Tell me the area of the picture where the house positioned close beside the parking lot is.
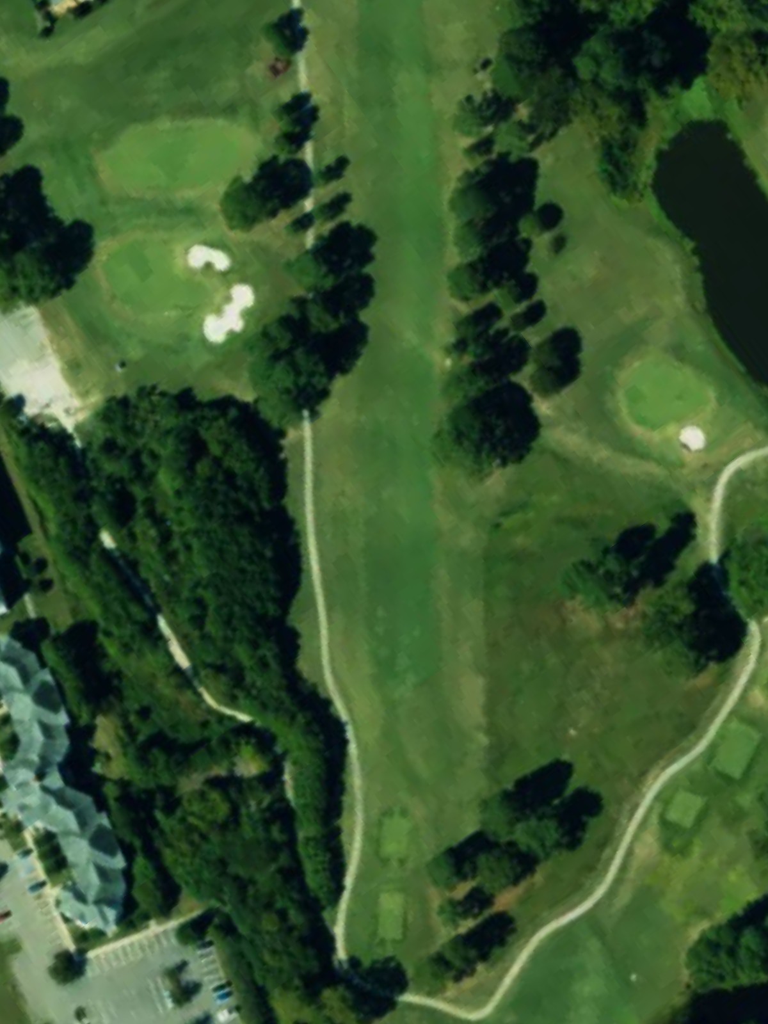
bottom left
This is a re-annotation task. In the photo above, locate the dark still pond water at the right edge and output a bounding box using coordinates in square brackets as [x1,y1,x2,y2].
[653,119,768,388]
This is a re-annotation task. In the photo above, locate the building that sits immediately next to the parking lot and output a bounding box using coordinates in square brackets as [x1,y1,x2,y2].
[0,633,128,939]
